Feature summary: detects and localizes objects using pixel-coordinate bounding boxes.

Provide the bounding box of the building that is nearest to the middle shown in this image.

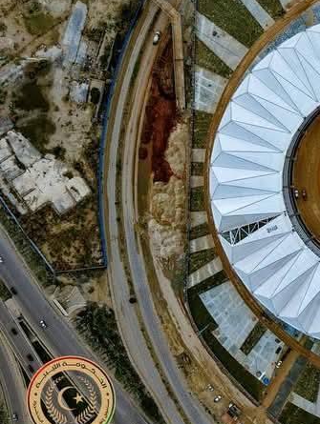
[68,176,94,203]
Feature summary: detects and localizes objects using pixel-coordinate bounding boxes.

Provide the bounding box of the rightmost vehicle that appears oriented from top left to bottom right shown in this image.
[226,403,241,418]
